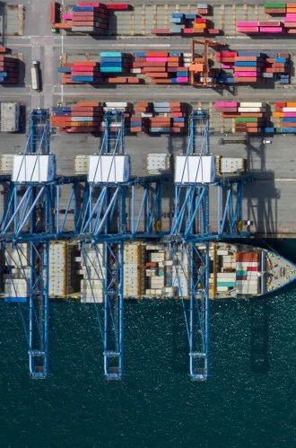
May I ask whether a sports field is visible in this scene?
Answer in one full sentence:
No, there's no sports field here.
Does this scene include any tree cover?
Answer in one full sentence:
No, tree cover can't be seen anywhere here.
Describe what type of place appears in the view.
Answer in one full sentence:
The area seen from above is a port.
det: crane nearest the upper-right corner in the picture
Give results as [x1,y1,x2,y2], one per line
[187,40,228,89]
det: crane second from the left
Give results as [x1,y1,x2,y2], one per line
[73,108,186,378]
